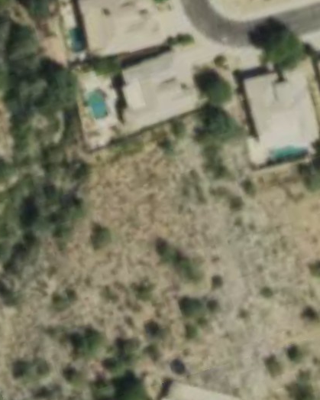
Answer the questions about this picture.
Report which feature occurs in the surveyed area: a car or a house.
house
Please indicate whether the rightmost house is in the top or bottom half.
top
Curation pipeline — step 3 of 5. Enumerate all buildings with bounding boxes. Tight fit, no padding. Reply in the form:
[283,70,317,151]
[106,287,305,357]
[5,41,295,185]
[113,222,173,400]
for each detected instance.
[80,0,171,57]
[117,54,205,129]
[246,67,320,147]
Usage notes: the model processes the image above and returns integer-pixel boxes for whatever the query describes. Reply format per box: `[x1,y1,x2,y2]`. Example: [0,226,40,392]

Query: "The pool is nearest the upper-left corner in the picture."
[69,21,85,55]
